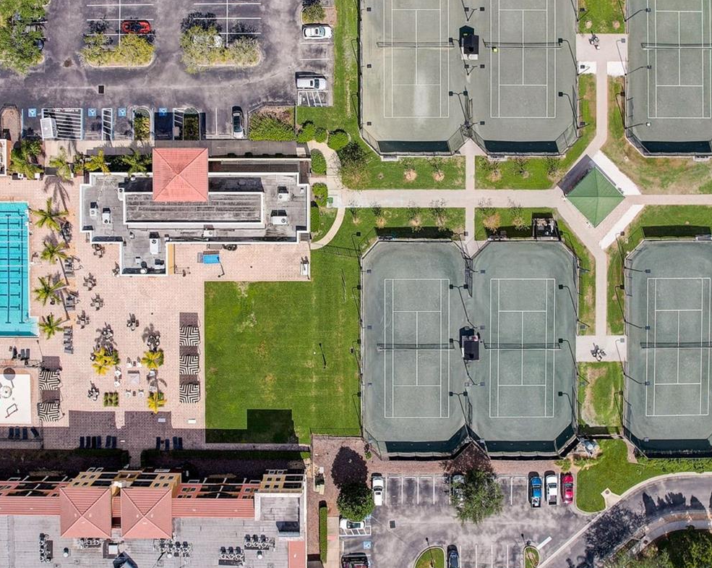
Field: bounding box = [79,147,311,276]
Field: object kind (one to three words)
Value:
building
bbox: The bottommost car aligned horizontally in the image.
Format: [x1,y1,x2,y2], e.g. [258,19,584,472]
[341,554,370,568]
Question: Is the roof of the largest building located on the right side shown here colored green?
Yes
